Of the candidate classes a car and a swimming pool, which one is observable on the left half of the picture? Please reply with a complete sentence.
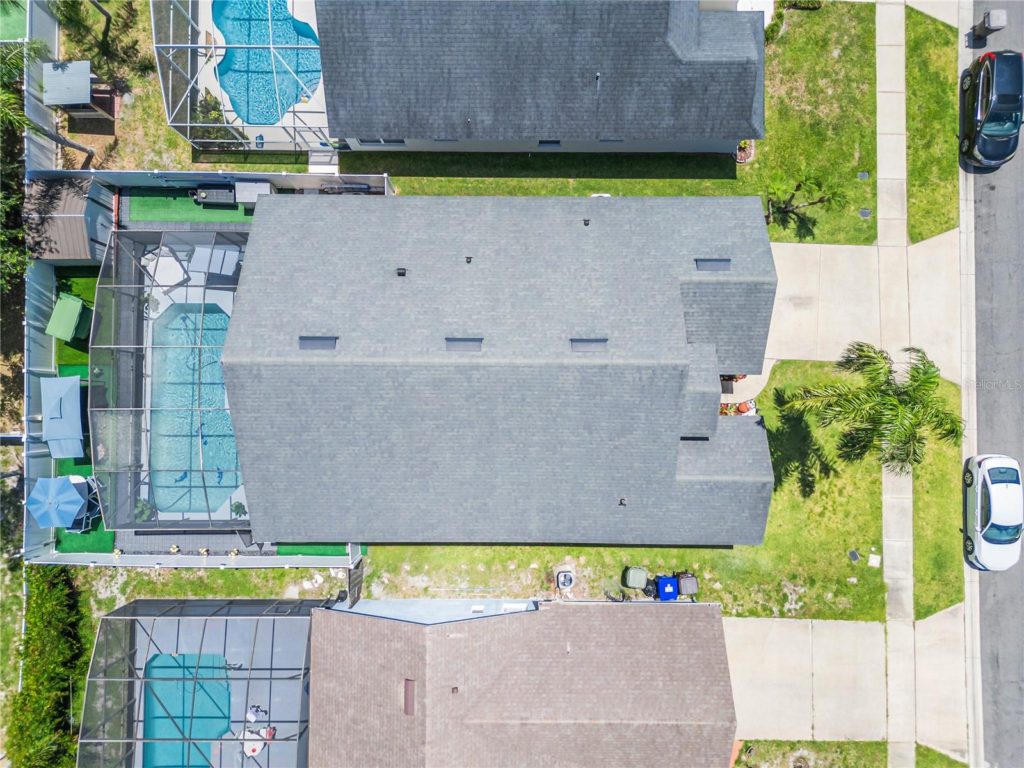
The feature located on the left half of the picture is a swimming pool.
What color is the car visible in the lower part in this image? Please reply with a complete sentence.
The color of the car visible in the lower part is white.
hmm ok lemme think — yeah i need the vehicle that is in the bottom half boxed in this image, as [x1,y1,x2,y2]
[964,453,1024,569]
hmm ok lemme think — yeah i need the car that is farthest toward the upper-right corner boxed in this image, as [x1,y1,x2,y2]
[962,46,1024,173]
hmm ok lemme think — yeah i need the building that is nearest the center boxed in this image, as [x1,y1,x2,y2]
[220,195,781,544]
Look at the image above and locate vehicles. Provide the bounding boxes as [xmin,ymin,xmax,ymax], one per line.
[962,46,1024,173]
[964,453,1024,569]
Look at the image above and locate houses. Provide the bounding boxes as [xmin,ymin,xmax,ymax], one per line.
[220,195,781,544]
[315,0,766,153]
[311,599,738,768]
